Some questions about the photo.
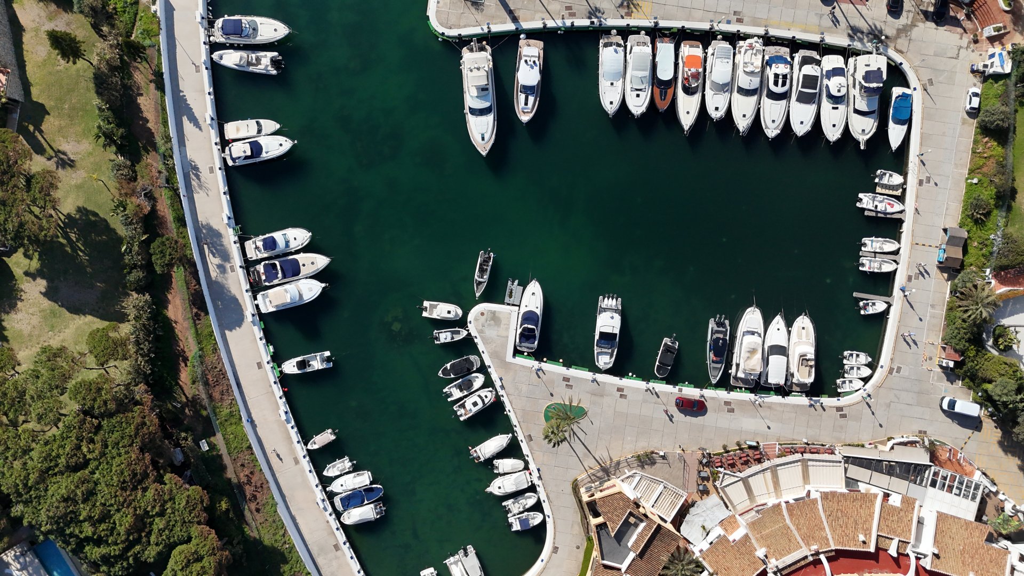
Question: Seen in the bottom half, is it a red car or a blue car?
red car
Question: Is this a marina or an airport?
marina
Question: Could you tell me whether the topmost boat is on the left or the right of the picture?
left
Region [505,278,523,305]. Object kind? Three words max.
pier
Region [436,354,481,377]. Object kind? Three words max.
boat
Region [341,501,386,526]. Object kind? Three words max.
boat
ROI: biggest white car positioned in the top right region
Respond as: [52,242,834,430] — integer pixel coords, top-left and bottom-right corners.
[963,87,984,114]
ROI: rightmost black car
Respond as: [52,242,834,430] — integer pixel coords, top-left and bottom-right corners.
[931,0,952,25]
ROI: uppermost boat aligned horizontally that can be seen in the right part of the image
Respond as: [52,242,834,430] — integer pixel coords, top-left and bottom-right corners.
[872,169,904,185]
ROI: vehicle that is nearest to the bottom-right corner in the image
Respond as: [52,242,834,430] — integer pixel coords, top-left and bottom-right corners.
[939,397,988,419]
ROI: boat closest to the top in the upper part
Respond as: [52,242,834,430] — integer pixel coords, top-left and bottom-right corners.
[207,16,293,47]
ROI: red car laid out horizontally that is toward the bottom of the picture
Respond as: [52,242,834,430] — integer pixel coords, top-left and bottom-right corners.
[674,395,708,413]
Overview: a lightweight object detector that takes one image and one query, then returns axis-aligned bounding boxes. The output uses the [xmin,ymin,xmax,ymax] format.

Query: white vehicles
[963,87,984,114]
[939,397,988,419]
